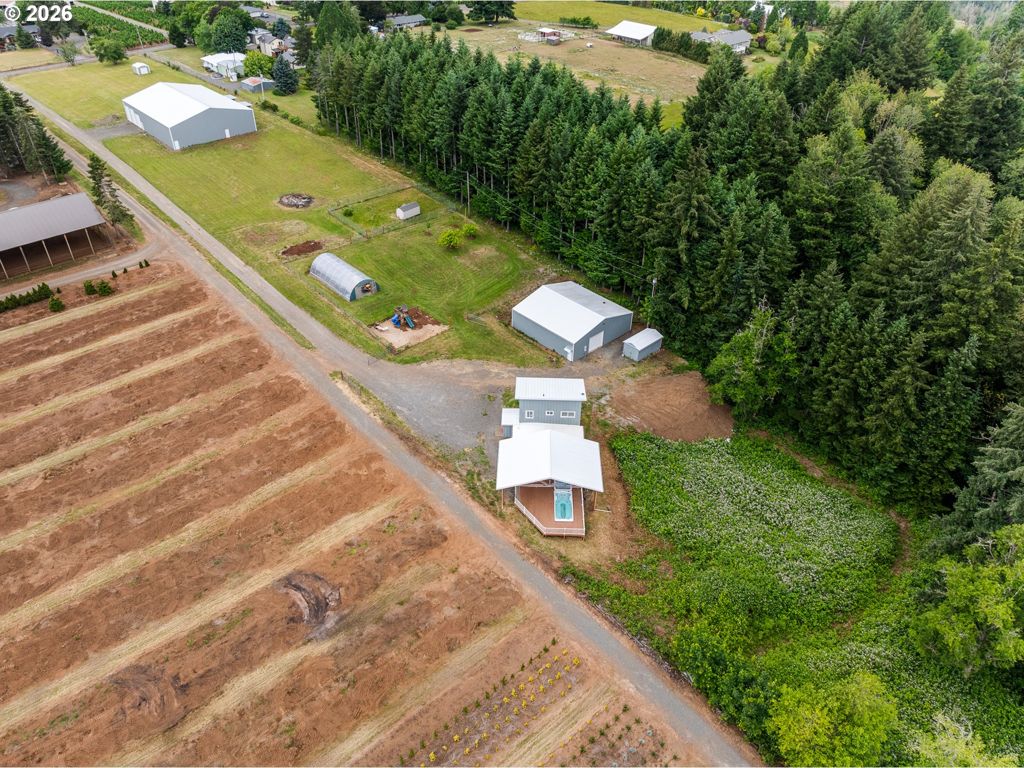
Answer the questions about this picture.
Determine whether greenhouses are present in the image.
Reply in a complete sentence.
Yes, the picture does show a greenhouse.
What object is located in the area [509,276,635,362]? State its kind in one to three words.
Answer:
building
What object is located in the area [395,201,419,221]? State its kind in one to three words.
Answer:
shed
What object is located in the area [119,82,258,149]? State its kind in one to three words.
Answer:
barn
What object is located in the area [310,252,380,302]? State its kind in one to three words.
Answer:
greenhouse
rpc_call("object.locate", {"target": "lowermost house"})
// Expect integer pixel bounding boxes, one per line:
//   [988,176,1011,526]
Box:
[500,376,586,438]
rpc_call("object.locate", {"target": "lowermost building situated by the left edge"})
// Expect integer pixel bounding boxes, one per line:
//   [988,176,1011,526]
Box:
[0,196,111,279]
